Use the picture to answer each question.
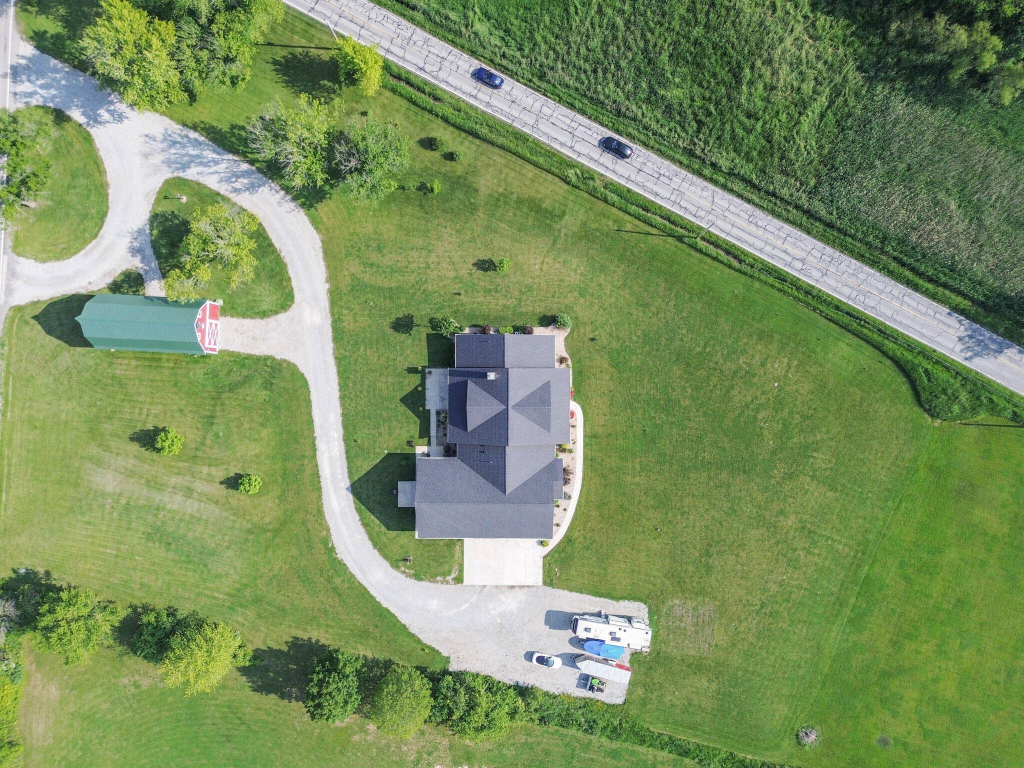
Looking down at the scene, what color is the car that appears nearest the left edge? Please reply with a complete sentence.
In this view, the car that appears nearest the left edge is blue.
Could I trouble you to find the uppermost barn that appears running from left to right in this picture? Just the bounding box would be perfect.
[74,292,220,356]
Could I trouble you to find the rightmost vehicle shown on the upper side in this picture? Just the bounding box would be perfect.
[602,137,633,160]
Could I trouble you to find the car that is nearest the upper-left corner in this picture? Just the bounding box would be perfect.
[476,68,506,91]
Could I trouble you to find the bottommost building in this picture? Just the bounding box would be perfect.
[414,332,571,540]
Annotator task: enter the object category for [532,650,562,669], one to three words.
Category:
car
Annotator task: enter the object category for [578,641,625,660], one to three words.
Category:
boat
